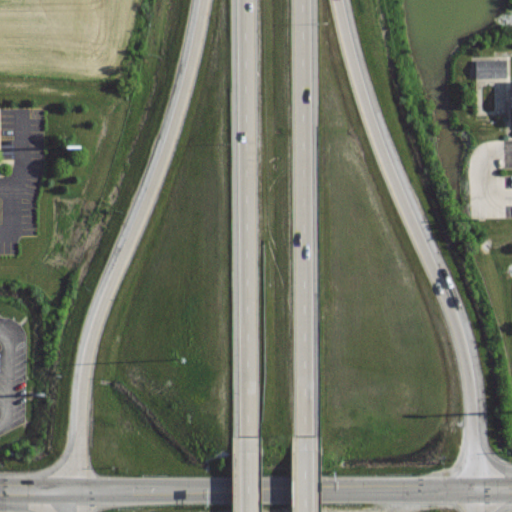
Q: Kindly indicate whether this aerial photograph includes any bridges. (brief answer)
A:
Yes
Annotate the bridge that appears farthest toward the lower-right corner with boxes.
[292,428,324,512]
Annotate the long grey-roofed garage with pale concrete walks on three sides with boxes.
[476,60,508,80]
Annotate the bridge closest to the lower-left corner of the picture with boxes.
[232,436,262,512]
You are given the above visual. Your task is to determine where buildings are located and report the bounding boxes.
[494,83,512,114]
[476,60,508,80]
